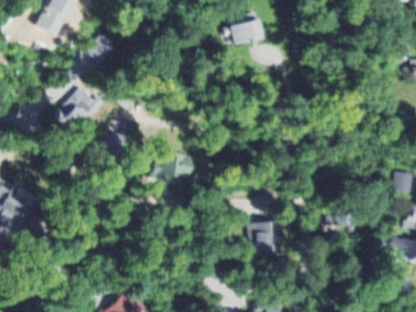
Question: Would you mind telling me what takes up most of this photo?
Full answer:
The bulk of the photo consists of trees.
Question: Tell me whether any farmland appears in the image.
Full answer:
No, there is no farmland in the image.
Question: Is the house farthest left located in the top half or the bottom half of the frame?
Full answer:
The bottom half of the photo is where the house farthest left is.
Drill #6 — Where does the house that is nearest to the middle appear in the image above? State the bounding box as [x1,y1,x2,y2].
[154,154,192,180]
